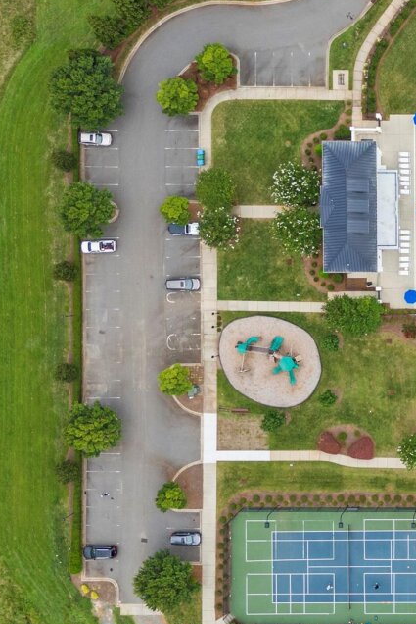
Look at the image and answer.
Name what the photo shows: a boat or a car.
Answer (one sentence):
The one in the frame is a car.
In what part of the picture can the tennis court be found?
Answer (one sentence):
You can find the tennis court in the bottom right area of the picture.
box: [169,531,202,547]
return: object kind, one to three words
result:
car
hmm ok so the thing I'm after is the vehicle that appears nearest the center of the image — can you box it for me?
[165,276,201,292]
